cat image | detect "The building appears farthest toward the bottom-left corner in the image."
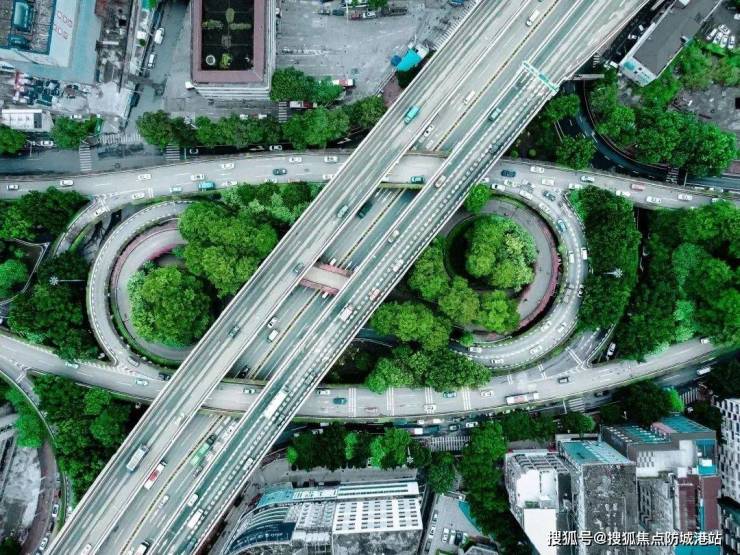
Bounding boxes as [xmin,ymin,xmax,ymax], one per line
[226,507,306,555]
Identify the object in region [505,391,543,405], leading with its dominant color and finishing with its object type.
white vehicle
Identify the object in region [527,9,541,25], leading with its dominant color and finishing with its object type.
white vehicle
